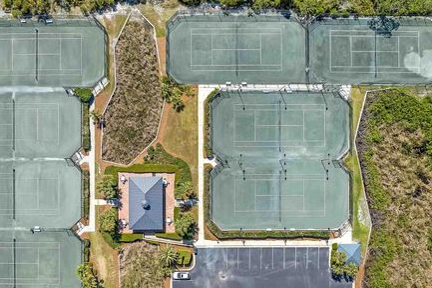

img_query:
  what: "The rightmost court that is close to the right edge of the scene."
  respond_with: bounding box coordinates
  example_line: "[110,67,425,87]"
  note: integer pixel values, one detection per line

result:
[308,17,432,84]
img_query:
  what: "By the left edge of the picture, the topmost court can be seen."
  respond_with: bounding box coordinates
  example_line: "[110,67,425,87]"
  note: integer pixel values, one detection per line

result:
[0,20,105,91]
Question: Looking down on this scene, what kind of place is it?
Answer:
sports ground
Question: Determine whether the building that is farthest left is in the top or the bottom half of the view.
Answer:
bottom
